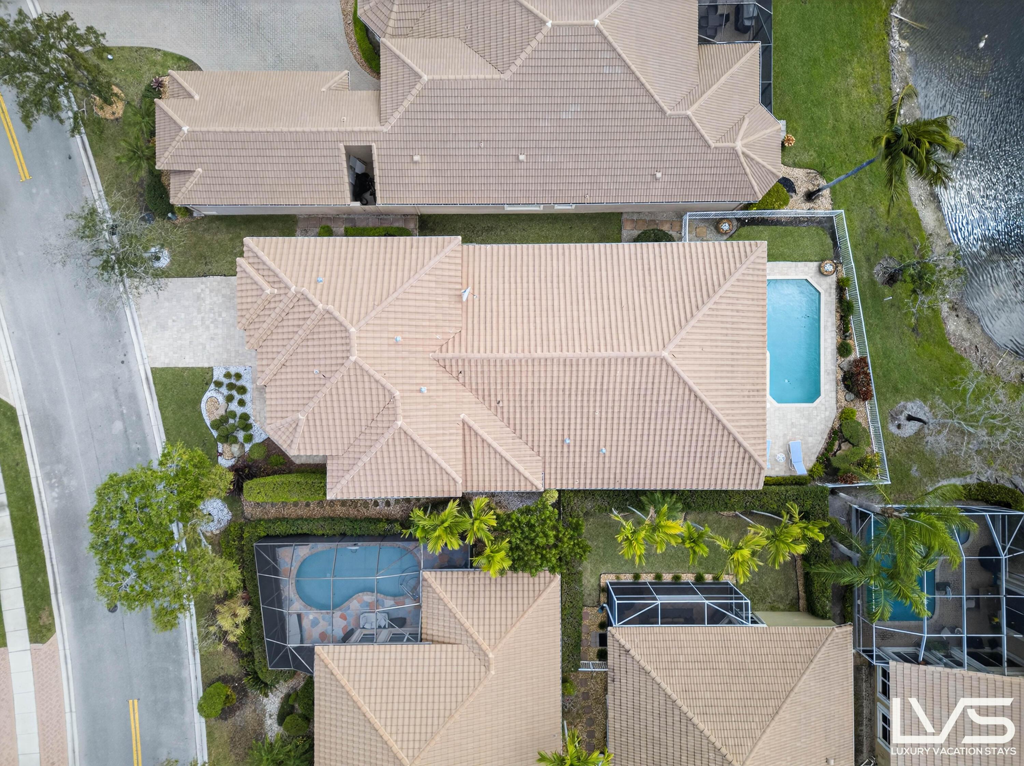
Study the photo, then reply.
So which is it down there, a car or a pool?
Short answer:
pool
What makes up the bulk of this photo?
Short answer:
buildings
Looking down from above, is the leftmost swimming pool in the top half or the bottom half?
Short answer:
bottom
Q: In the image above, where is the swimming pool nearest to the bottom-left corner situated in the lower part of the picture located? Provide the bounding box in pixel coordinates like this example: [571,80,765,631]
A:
[291,543,423,616]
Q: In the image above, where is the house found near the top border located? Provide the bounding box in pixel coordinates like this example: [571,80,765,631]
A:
[153,0,784,220]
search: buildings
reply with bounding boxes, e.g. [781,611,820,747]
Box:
[311,567,564,766]
[153,0,784,220]
[606,612,860,766]
[870,573,1024,766]
[235,234,770,502]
